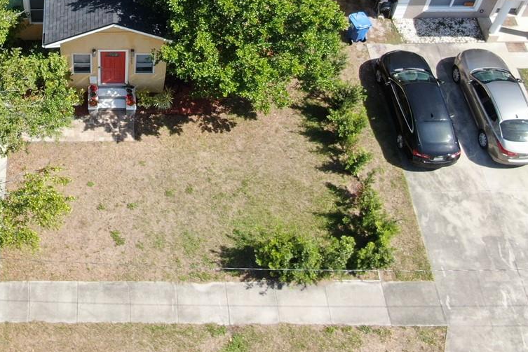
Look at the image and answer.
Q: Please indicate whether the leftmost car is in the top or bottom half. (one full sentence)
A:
It is in the top half that the leftmost car appears.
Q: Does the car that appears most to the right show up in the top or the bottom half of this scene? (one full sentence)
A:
The car that appears most to the right sits in the top half of the picture.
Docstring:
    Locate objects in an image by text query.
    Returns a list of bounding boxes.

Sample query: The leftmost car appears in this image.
[378,51,460,163]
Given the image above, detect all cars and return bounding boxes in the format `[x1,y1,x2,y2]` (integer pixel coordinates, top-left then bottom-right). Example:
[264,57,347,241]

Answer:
[378,51,460,163]
[460,49,528,161]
